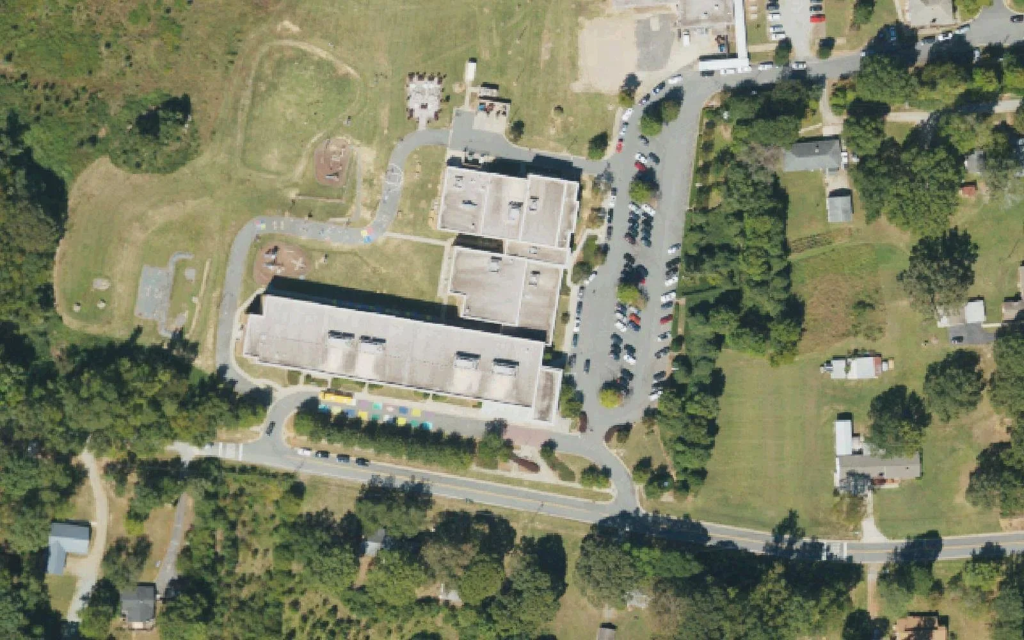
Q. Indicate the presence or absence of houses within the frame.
Yes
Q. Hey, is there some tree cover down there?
Yes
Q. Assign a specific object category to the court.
basketball court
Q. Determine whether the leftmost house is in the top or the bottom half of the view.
bottom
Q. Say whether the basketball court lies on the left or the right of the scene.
left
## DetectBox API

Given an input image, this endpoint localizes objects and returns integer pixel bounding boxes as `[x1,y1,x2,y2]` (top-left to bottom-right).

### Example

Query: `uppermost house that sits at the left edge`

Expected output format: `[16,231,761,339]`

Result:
[48,522,96,574]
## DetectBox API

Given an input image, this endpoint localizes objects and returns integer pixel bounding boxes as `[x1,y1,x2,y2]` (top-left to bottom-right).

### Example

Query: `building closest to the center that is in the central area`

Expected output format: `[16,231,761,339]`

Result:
[447,240,567,345]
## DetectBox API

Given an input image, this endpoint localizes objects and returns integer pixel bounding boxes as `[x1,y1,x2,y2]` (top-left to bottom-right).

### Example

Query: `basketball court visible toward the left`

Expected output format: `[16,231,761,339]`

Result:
[135,252,194,337]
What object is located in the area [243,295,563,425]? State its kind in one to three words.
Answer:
building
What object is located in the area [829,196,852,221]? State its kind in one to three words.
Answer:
shed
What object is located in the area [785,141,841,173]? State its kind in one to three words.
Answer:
house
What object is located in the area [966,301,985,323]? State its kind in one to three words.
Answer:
building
